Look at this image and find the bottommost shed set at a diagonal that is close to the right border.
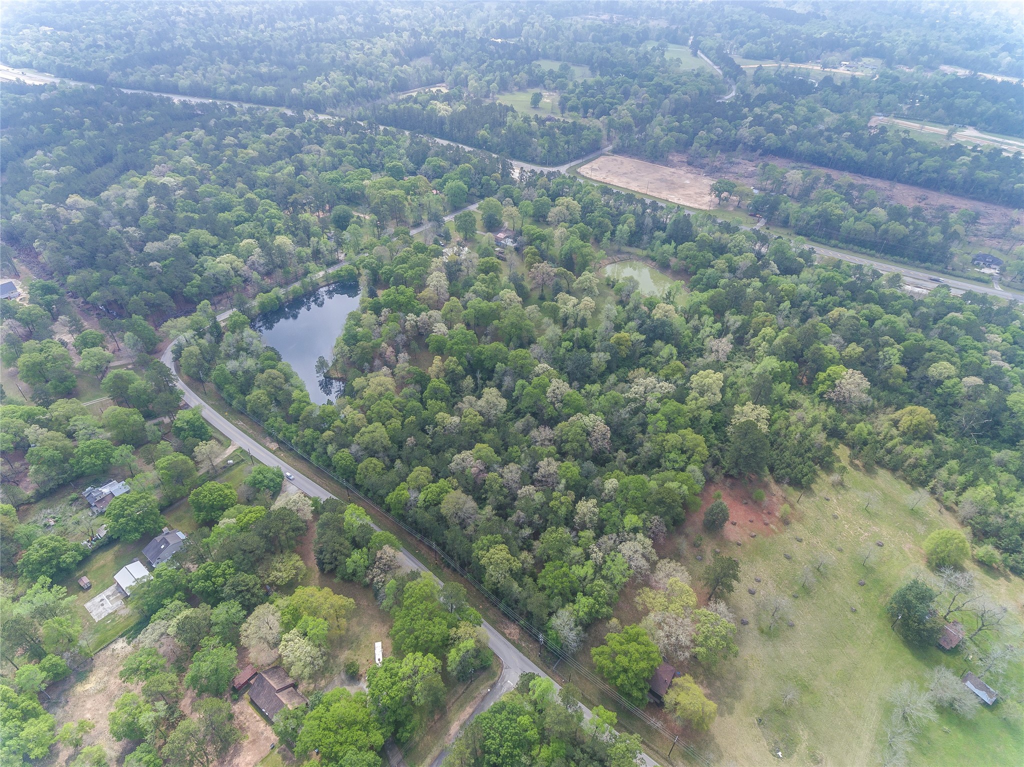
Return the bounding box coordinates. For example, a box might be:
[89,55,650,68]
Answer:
[962,671,998,707]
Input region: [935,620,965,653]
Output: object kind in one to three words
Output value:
barn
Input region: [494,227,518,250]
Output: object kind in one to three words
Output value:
house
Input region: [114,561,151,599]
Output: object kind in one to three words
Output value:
barn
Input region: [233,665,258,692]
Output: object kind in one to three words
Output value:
shed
